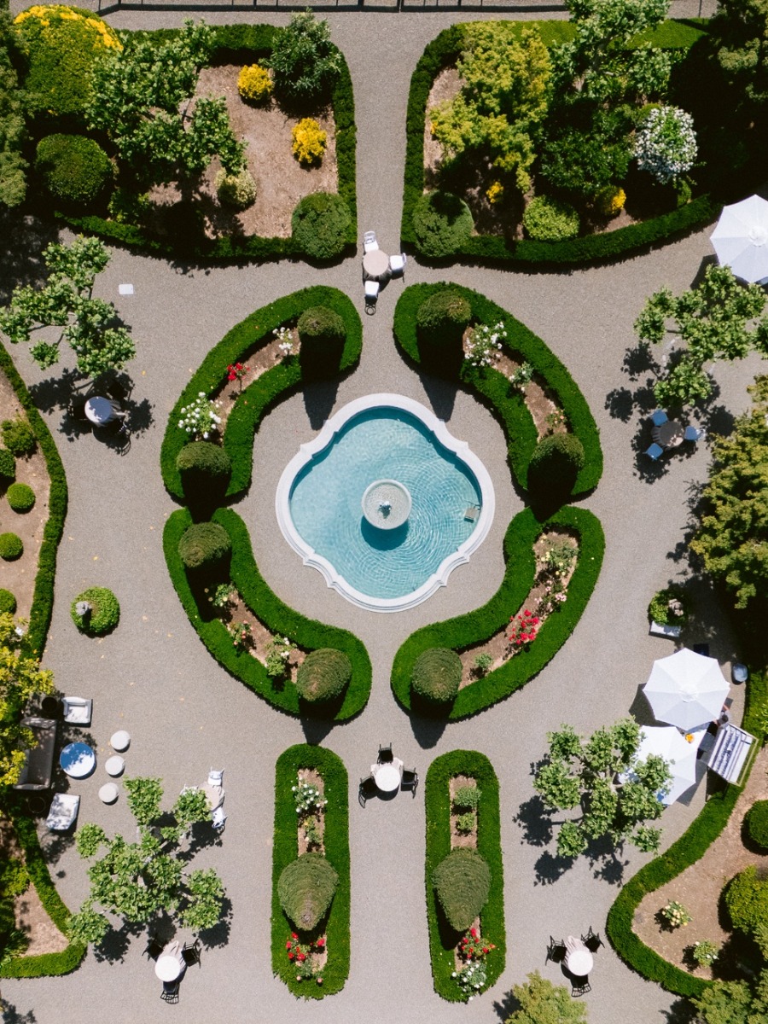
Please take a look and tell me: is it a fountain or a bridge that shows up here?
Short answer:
fountain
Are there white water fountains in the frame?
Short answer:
Yes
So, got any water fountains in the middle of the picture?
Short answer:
Yes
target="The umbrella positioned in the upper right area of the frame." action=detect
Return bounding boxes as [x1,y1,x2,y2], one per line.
[706,198,768,283]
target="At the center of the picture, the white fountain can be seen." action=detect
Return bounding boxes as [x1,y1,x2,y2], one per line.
[276,393,494,612]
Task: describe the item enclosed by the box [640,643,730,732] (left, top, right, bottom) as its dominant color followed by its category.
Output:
white umbrella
